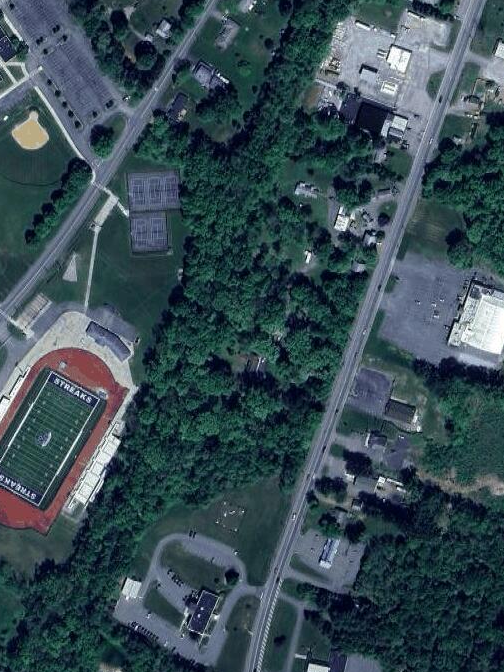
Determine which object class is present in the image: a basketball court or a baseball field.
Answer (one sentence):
Of the two, only a baseball field appears.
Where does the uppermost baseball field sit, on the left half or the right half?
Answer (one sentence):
The uppermost baseball field appears in the left half of the scene.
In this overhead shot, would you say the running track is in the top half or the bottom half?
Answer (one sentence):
The bottom half of the photo is where the running track is.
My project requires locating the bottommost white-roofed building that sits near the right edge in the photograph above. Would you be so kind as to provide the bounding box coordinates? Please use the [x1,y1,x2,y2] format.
[448,283,504,361]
